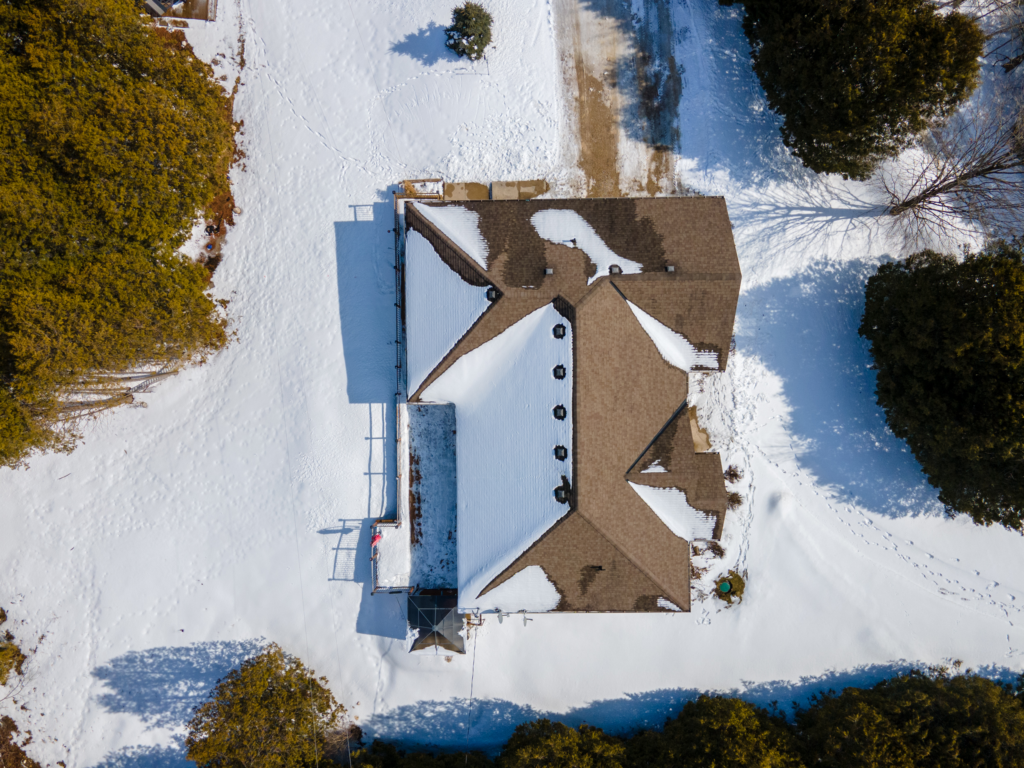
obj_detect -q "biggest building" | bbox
[403,197,741,615]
